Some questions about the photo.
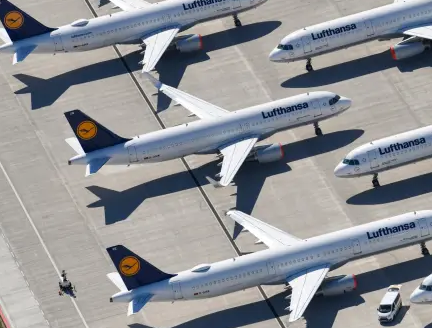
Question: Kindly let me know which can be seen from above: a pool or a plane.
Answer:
plane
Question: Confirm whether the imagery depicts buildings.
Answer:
No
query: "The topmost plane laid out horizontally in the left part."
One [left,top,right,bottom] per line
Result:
[0,0,264,75]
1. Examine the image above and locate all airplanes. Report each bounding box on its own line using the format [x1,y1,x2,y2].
[0,0,264,75]
[65,71,351,188]
[332,125,432,187]
[106,210,432,327]
[268,0,432,72]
